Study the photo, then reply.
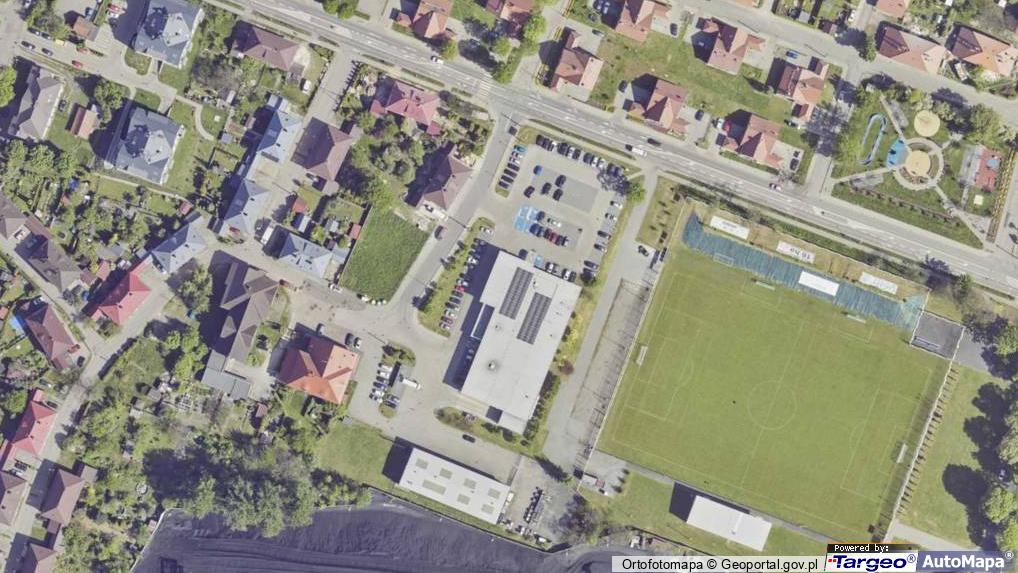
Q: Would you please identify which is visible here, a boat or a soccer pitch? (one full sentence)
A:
The image shows a soccer pitch.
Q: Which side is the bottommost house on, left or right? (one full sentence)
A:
You can find the bottommost house on the left side of the picture.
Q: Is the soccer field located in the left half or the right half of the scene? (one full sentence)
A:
The soccer field appears in the right half of the scene.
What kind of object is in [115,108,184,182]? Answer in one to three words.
house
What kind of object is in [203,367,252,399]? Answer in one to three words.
building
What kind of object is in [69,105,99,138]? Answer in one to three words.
shed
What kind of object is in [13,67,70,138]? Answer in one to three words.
house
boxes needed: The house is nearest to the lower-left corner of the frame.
[19,539,63,573]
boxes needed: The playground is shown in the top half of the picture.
[831,96,1000,249]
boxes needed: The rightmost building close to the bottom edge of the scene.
[686,494,772,552]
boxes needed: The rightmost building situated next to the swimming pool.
[25,304,79,371]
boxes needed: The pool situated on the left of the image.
[7,314,25,333]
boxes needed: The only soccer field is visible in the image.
[597,204,950,543]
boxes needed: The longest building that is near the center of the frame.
[460,249,583,435]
